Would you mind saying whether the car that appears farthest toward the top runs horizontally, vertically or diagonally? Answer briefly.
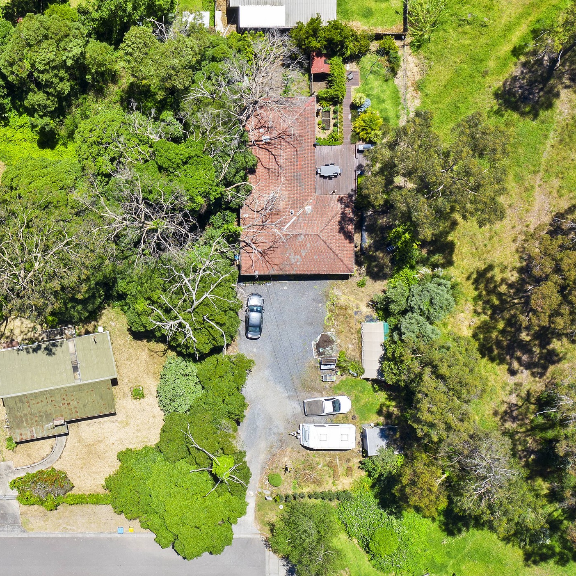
vertically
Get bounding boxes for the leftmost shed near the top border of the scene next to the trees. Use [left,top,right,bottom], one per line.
[181,11,209,33]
